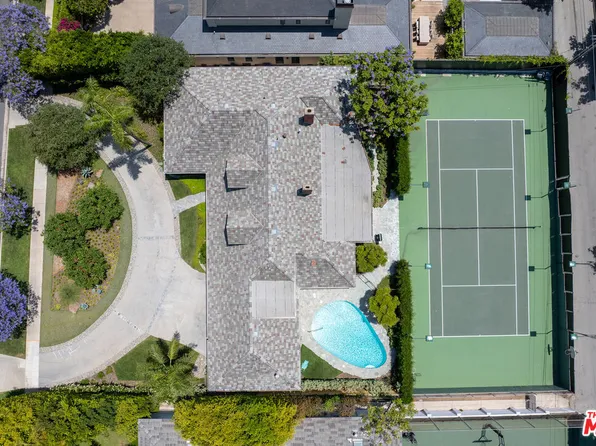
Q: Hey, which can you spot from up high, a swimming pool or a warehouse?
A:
swimming pool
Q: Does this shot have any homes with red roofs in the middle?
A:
No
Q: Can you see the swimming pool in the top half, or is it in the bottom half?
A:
bottom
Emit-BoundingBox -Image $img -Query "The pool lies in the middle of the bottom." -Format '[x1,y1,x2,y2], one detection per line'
[308,297,390,371]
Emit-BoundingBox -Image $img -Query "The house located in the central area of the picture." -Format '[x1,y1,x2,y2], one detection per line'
[164,66,373,392]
